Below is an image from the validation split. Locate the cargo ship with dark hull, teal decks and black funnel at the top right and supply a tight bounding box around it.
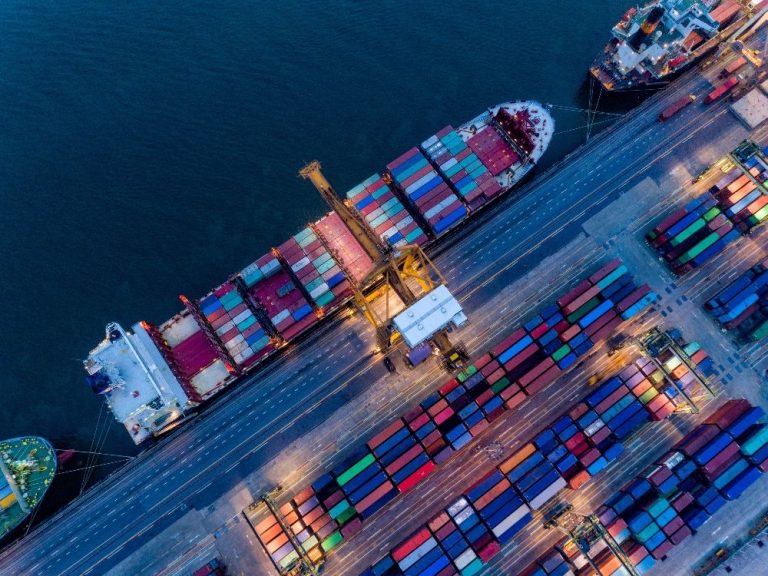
[591,0,768,90]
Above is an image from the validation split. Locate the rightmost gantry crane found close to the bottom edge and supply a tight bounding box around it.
[547,505,644,576]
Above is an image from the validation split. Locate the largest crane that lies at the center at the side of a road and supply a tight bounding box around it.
[293,150,475,375]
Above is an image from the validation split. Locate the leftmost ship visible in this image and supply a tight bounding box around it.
[0,442,73,540]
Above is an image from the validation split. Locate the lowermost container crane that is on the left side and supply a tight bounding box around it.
[237,484,327,576]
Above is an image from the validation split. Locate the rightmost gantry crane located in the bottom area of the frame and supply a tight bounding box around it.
[617,328,722,418]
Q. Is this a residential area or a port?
port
